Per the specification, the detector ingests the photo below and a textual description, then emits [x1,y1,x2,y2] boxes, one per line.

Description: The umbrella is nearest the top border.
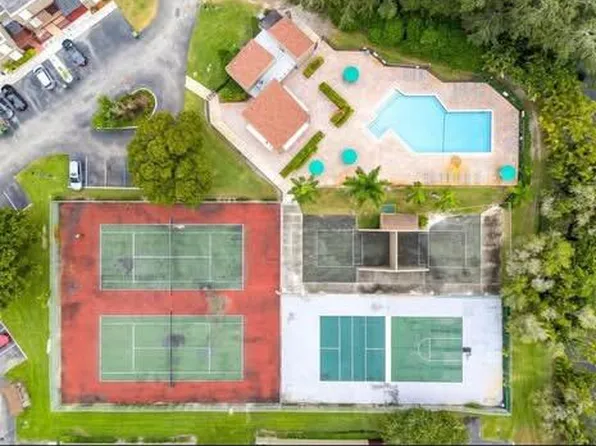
[341,66,359,84]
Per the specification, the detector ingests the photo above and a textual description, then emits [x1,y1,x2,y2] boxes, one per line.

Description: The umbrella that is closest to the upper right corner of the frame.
[498,165,515,182]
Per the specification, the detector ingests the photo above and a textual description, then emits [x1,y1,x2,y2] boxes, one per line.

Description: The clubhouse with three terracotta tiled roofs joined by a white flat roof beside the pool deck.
[224,17,315,155]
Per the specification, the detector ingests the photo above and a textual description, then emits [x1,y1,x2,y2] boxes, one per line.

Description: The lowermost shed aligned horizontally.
[379,214,417,228]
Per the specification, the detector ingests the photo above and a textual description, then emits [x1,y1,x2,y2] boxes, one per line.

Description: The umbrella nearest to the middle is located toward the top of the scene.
[308,160,324,176]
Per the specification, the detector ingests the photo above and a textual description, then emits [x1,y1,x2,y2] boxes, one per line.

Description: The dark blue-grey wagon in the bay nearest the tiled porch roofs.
[63,38,89,68]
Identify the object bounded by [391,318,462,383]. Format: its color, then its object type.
green basketball court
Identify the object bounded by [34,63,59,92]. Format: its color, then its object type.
white car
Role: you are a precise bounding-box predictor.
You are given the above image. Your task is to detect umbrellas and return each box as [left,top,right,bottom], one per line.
[498,165,515,182]
[341,66,359,84]
[449,154,460,165]
[308,160,324,176]
[340,149,356,166]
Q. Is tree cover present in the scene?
Yes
